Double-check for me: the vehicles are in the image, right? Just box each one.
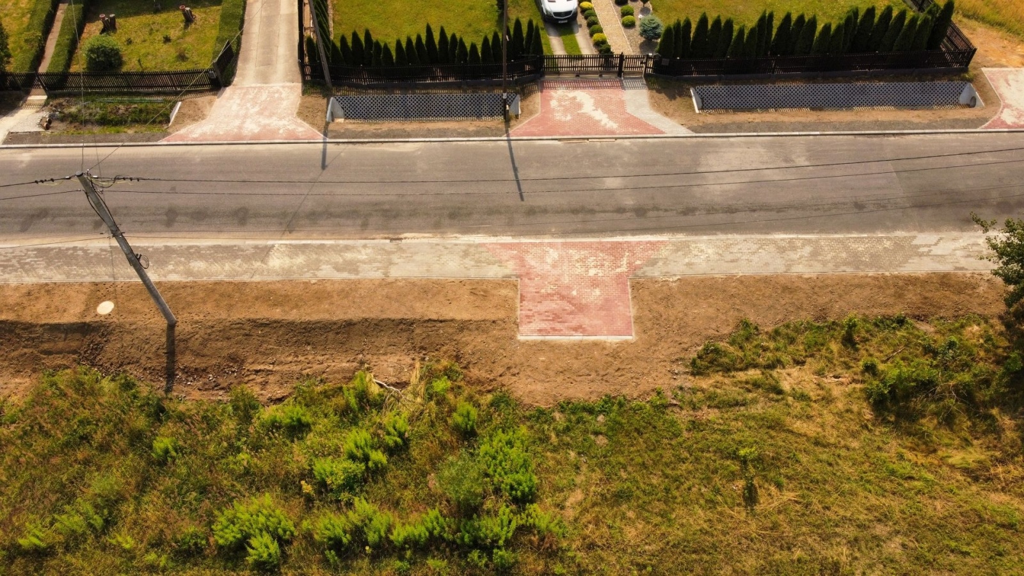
[537,0,577,25]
